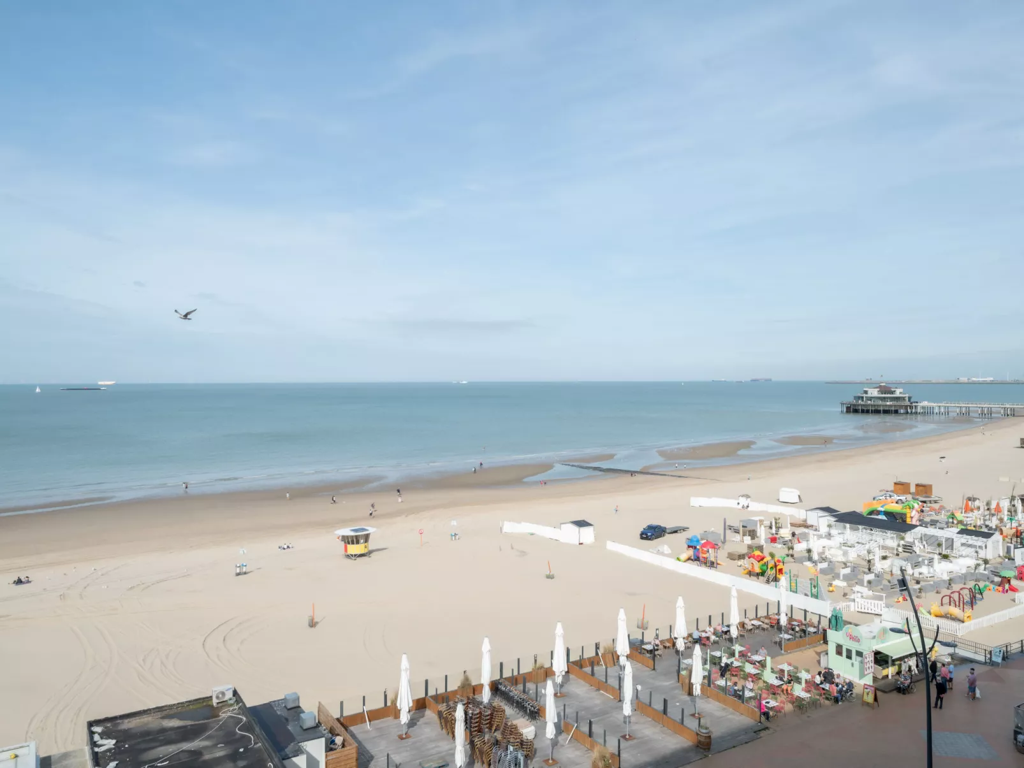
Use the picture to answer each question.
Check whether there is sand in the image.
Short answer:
Yes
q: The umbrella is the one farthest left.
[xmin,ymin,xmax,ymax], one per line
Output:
[394,650,415,741]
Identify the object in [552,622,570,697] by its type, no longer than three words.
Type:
umbrella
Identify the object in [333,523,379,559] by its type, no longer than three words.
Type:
building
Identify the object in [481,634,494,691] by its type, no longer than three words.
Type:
umbrella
